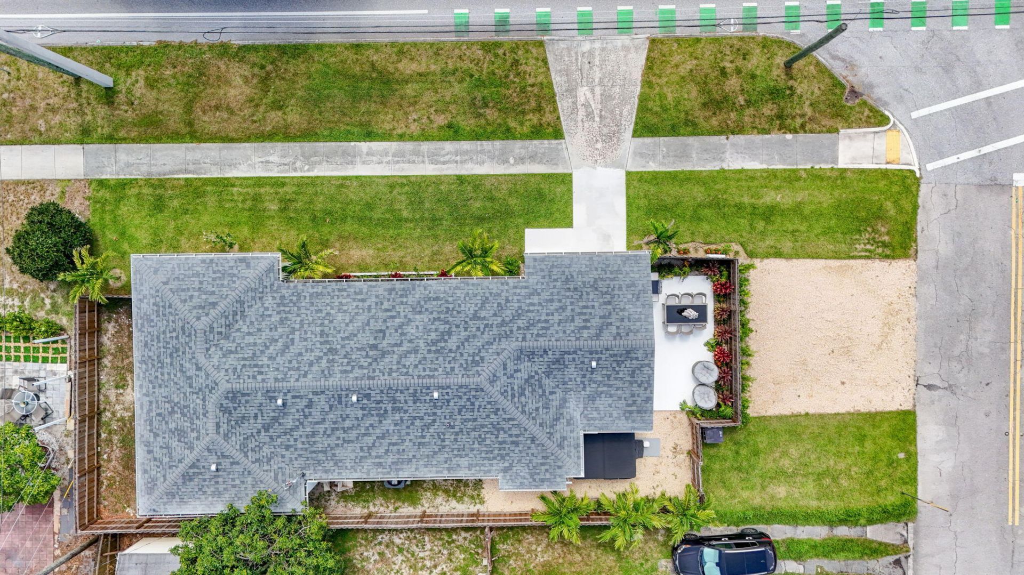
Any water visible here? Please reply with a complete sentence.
No, the picture contains no water.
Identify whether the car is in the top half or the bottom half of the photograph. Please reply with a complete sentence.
The bottom half of the photo is where the car is.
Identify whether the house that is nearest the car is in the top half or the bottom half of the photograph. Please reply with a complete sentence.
The house that is nearest the car sits in the bottom half of the picture.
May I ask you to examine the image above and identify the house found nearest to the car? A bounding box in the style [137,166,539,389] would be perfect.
[130,250,656,517]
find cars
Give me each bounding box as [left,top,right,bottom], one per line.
[669,531,774,575]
